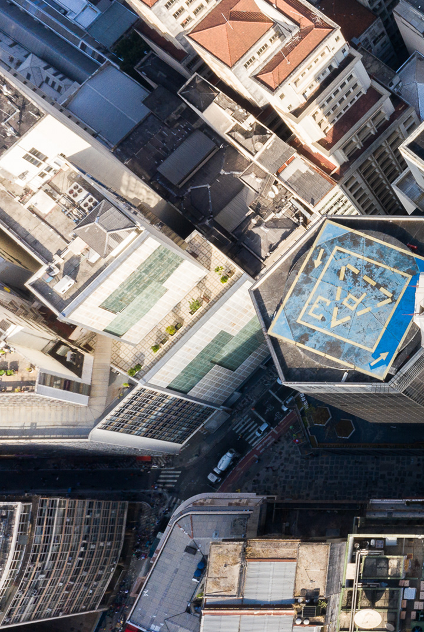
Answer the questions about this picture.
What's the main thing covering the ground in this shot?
buildings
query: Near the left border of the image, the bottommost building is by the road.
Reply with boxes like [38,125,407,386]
[0,497,127,632]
